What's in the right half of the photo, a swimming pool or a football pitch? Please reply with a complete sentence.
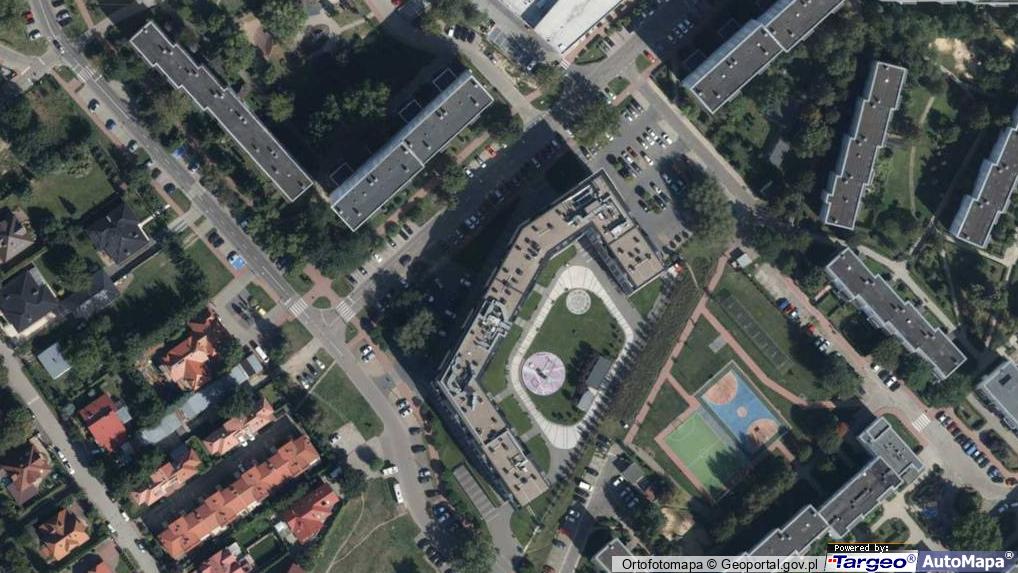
Looking in the right half of the photo, you will find a football pitch.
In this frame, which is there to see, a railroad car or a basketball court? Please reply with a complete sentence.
The one in the frame is a basketball court.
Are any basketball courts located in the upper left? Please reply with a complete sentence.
No, in the upper left there is no basketball court.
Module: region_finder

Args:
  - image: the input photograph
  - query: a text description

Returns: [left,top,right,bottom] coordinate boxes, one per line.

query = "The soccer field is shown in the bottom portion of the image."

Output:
[654,402,748,502]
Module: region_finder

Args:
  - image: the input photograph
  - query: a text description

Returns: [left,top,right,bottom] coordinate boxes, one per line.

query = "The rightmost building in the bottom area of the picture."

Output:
[970,359,1018,436]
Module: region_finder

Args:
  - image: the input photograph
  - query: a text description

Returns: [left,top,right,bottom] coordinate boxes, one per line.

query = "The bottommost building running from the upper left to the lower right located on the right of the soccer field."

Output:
[846,415,925,483]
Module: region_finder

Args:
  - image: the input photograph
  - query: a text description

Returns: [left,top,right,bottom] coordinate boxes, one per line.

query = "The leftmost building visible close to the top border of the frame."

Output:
[129,22,312,200]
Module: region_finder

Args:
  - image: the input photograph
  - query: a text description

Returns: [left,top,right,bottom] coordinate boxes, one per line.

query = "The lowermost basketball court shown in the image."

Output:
[695,361,786,463]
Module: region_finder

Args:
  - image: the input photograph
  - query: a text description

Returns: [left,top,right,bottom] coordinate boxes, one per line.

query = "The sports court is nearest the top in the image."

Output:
[720,294,793,370]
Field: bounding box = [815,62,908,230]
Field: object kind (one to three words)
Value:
building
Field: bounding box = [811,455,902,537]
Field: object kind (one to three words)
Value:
building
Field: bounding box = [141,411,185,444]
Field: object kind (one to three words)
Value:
shed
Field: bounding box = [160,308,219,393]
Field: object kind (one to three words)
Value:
house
